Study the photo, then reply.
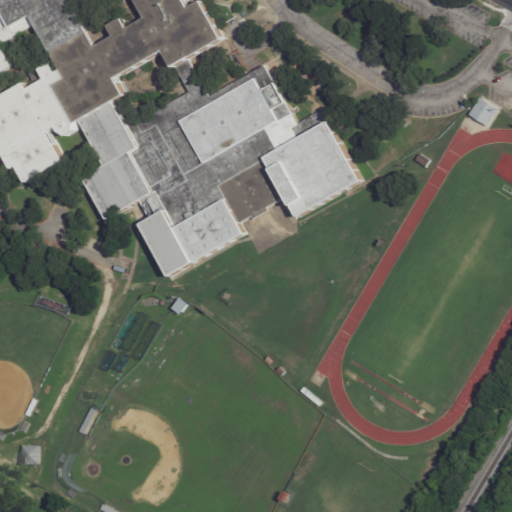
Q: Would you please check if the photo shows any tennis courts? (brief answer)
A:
No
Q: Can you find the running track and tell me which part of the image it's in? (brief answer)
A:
right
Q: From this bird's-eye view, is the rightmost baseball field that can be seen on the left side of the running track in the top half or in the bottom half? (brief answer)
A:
bottom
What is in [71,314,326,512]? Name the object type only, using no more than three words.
baseball field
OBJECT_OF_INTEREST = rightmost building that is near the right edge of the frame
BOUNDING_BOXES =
[469,97,499,126]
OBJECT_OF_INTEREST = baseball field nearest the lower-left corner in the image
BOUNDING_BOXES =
[0,303,70,432]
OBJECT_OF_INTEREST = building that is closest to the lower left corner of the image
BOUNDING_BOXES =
[22,445,43,465]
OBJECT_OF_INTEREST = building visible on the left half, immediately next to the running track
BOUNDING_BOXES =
[0,0,364,277]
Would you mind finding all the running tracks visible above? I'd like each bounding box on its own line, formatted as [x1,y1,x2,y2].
[318,91,512,444]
